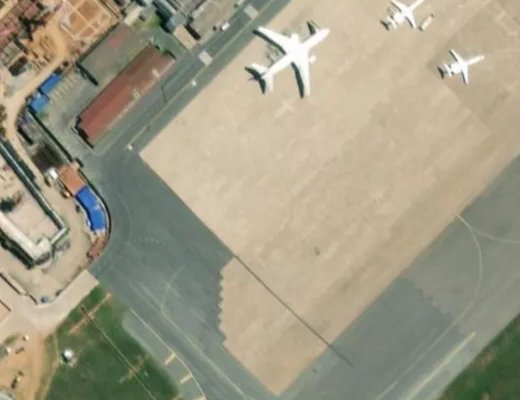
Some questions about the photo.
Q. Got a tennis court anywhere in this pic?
No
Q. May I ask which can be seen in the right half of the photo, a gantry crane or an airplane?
airplane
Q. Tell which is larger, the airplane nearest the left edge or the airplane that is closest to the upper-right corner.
the airplane nearest the left edge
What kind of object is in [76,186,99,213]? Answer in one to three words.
shed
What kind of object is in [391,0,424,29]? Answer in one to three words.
airplane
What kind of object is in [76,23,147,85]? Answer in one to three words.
building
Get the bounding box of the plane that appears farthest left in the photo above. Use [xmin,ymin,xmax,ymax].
[250,26,329,98]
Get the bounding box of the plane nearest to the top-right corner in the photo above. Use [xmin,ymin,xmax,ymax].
[446,49,483,83]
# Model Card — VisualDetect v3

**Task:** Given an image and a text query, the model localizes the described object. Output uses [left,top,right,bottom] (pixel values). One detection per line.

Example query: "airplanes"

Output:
[391,0,424,29]
[446,49,483,83]
[250,26,329,98]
